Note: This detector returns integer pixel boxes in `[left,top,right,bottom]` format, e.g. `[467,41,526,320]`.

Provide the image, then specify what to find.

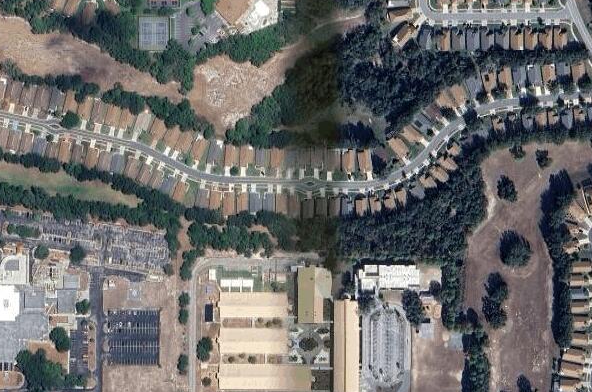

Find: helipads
[128,284,142,300]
